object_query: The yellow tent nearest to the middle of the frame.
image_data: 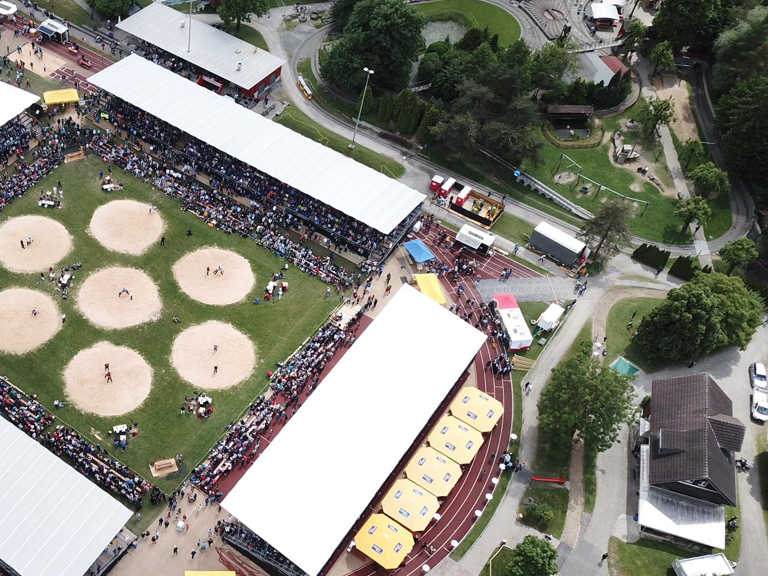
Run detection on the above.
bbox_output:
[412,275,445,307]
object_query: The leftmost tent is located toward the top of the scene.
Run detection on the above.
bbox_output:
[44,92,79,110]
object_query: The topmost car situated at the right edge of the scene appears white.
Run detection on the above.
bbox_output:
[750,361,768,386]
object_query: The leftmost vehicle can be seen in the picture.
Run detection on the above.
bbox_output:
[36,23,66,44]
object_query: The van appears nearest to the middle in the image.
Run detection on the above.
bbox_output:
[450,230,492,260]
